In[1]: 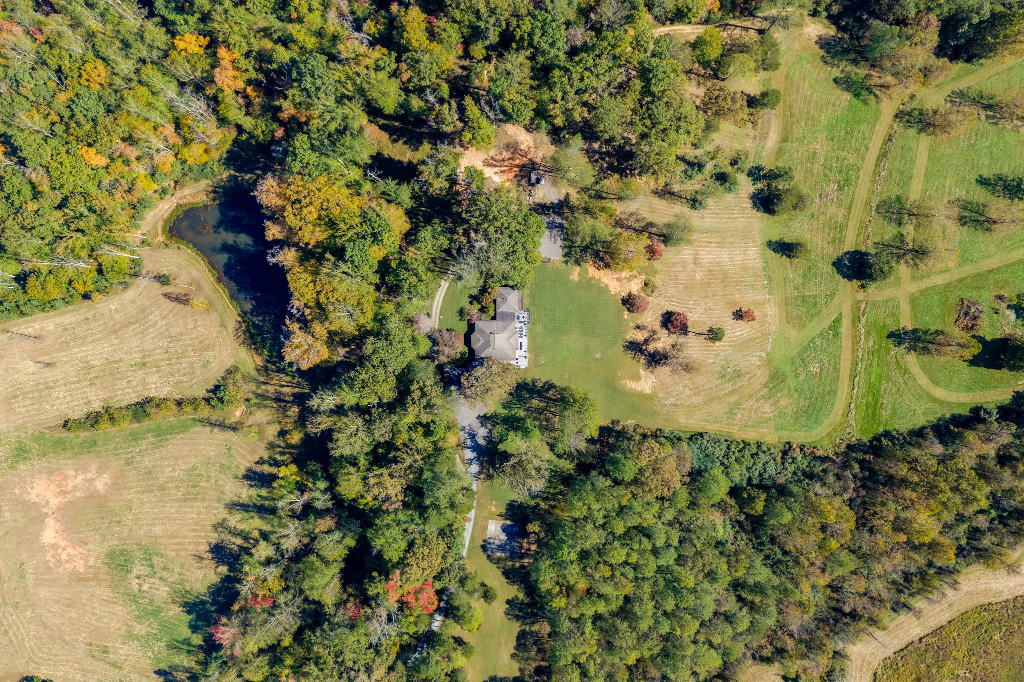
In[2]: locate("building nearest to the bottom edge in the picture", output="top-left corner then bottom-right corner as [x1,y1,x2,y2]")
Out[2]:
[471,287,519,361]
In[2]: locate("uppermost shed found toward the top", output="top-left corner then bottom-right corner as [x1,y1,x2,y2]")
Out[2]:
[541,216,564,259]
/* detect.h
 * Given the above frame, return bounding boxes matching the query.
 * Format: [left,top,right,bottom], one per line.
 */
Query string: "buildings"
[471,287,519,361]
[541,216,564,259]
